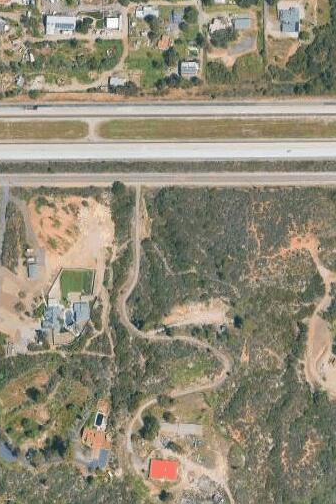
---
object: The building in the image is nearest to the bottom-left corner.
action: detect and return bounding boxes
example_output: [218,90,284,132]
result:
[83,430,111,455]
